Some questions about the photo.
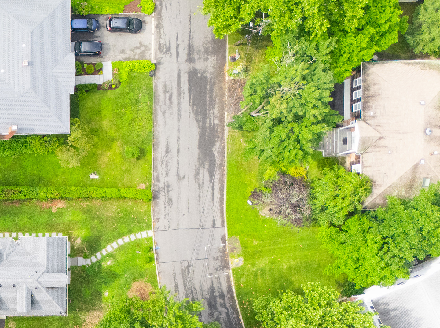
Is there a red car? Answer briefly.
No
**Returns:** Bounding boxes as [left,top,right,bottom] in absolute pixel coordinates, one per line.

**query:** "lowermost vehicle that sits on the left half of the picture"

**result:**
[71,38,102,57]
